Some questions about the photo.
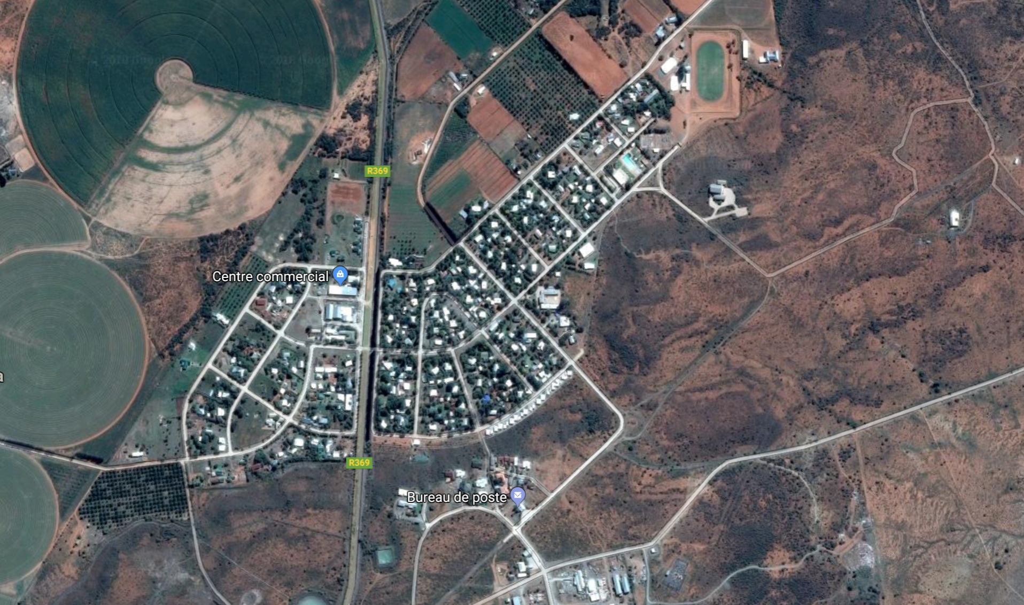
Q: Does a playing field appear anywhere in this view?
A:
Yes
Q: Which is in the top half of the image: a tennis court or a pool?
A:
pool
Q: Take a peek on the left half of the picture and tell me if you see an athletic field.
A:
No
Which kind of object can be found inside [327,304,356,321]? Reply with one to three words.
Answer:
building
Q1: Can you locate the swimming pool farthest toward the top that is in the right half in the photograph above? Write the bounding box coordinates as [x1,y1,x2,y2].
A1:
[620,150,644,176]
